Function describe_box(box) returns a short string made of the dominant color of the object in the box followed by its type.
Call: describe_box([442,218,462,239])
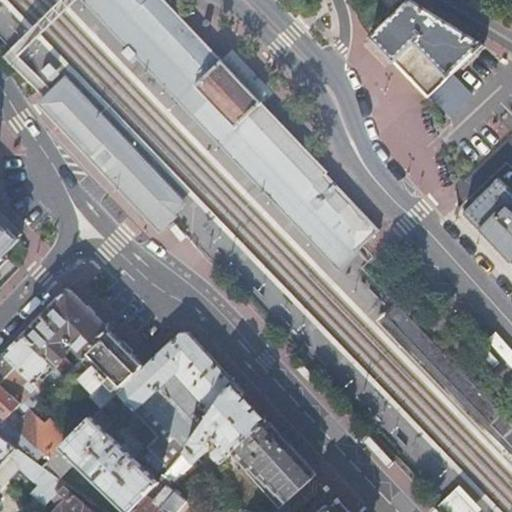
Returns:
gray car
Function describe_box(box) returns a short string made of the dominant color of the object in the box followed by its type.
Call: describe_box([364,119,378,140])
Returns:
white car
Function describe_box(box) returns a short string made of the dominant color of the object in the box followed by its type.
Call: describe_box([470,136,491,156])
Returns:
white car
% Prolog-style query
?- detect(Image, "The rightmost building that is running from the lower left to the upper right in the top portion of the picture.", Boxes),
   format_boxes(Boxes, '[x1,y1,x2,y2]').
[464,177,508,226]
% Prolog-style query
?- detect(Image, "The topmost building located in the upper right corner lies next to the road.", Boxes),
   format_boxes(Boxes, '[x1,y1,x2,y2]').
[366,0,485,98]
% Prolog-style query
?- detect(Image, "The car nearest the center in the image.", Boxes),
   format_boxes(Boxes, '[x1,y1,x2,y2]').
[148,241,166,258]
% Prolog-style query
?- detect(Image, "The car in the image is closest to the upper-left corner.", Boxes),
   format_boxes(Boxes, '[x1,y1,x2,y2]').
[24,119,42,138]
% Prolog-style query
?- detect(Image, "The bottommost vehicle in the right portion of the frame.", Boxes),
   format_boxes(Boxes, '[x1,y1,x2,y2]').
[488,336,512,368]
